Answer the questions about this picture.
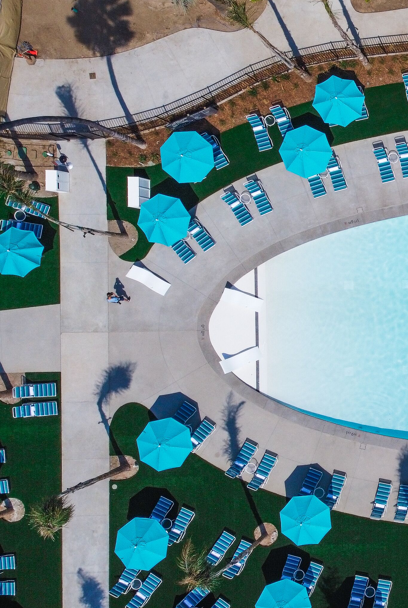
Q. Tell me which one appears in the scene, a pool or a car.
pool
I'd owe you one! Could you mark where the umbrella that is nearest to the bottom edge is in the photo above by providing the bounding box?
[256,577,312,608]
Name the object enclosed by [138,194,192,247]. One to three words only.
umbrella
